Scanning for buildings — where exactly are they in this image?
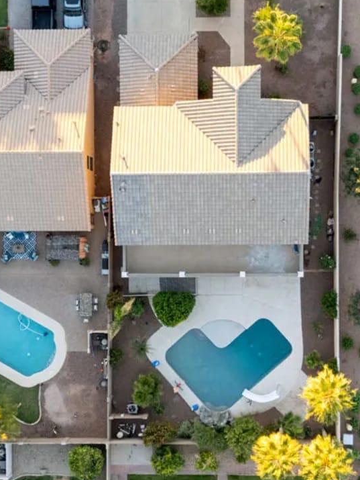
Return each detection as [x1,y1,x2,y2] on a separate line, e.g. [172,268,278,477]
[0,28,94,232]
[111,32,310,277]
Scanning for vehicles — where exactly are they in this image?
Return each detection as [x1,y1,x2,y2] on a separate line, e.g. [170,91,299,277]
[60,0,86,28]
[29,0,55,29]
